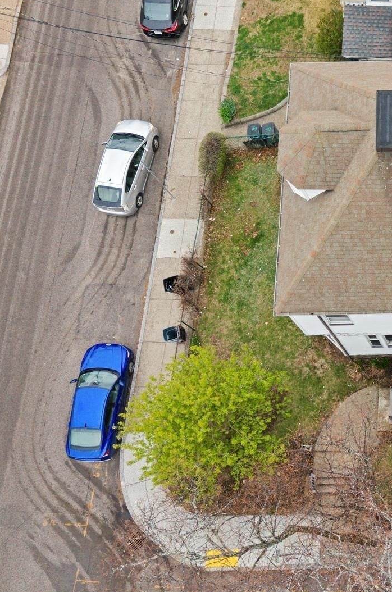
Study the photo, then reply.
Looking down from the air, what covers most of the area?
paved ground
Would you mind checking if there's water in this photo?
No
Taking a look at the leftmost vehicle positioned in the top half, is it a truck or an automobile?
automobile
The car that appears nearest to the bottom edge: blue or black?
blue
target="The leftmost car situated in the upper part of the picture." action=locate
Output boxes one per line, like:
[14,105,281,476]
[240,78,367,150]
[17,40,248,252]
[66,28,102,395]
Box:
[93,120,159,219]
